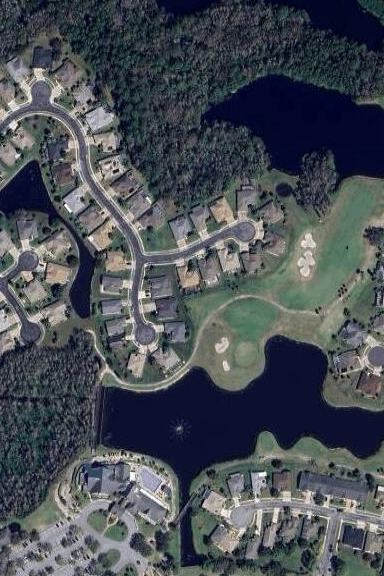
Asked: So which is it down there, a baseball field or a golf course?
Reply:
golf course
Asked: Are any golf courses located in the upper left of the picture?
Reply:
No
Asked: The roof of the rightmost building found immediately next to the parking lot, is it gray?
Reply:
Yes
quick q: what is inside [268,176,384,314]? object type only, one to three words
golf course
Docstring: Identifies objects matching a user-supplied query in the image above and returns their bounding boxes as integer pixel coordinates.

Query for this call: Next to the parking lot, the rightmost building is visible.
[78,461,170,523]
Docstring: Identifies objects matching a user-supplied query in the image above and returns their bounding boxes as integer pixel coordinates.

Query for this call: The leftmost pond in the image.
[0,160,94,318]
